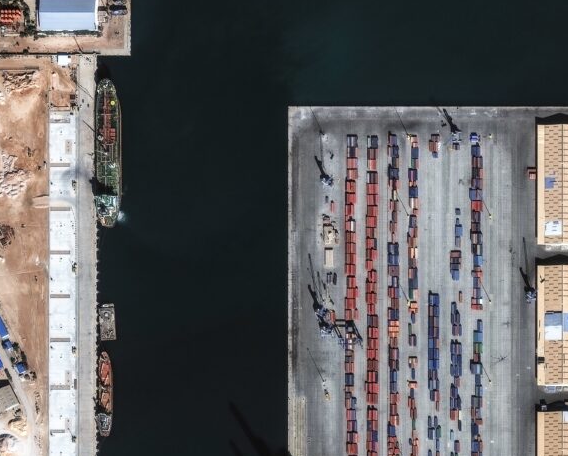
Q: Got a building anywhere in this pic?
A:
Yes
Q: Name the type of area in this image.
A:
port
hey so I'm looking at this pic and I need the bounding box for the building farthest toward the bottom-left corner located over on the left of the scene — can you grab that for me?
[0,383,23,412]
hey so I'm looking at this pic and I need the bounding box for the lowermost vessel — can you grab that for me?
[98,351,114,437]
